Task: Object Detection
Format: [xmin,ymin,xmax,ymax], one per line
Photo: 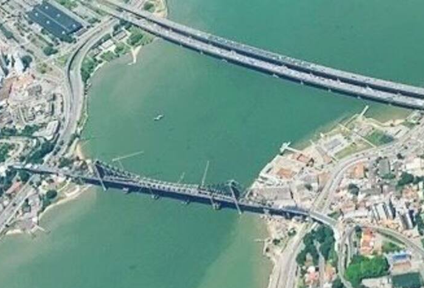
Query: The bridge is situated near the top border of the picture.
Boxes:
[80,0,424,113]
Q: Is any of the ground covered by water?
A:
Yes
